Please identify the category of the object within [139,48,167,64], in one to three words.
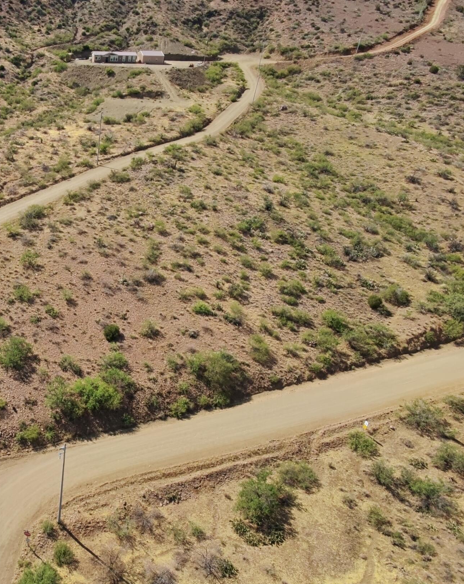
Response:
building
